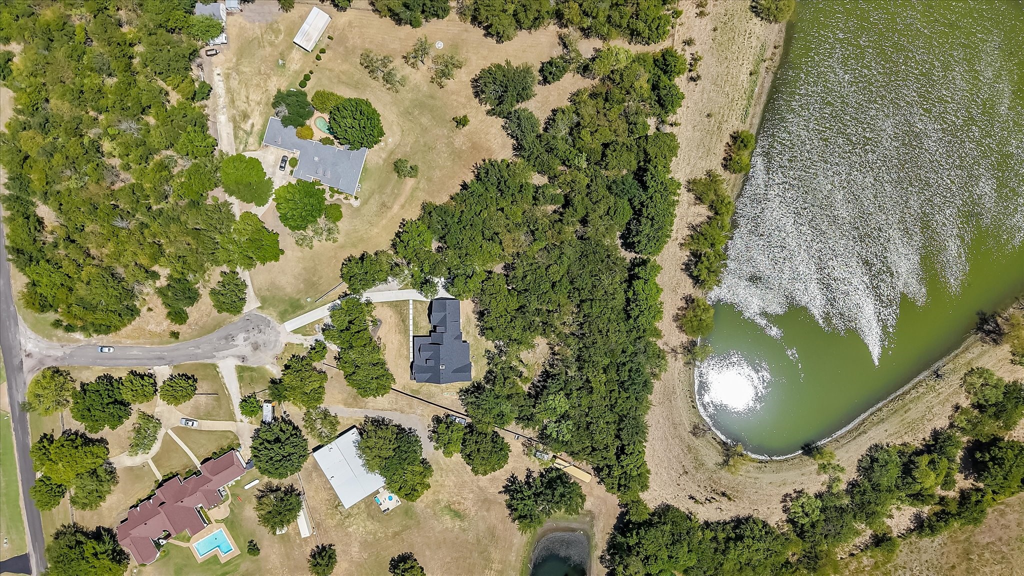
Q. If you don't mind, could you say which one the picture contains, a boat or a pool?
pool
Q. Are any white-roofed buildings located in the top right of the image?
No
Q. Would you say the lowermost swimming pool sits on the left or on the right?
left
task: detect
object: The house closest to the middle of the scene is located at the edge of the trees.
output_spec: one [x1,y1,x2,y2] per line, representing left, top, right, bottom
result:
[411,300,471,384]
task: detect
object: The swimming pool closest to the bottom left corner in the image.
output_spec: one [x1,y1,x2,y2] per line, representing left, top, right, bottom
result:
[192,528,235,560]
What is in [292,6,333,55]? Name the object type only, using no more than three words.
barn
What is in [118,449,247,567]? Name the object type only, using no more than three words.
house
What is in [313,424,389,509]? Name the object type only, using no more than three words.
building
